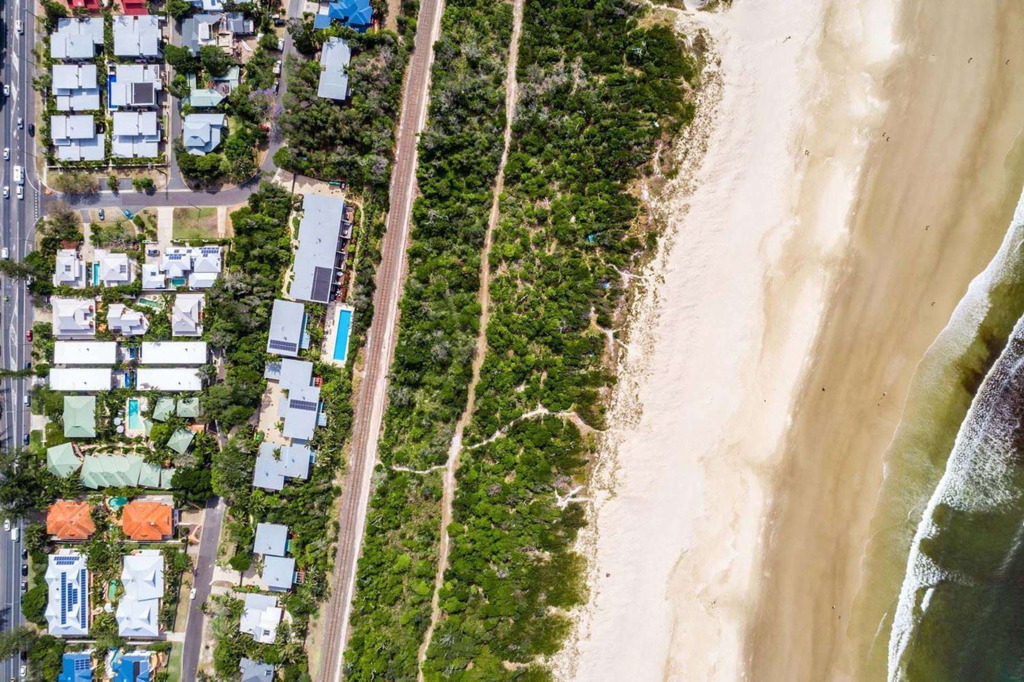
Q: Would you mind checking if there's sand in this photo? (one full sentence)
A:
Yes, there's sand in this view.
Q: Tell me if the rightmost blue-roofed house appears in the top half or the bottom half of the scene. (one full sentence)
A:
You can find the rightmost blue-roofed house in the top half.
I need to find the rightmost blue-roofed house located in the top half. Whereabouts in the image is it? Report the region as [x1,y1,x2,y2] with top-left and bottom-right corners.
[315,0,372,32]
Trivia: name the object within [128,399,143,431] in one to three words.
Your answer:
swimming pool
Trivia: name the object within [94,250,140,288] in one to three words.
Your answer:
house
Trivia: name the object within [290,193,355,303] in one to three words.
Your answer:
building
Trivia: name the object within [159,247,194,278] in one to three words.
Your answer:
house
